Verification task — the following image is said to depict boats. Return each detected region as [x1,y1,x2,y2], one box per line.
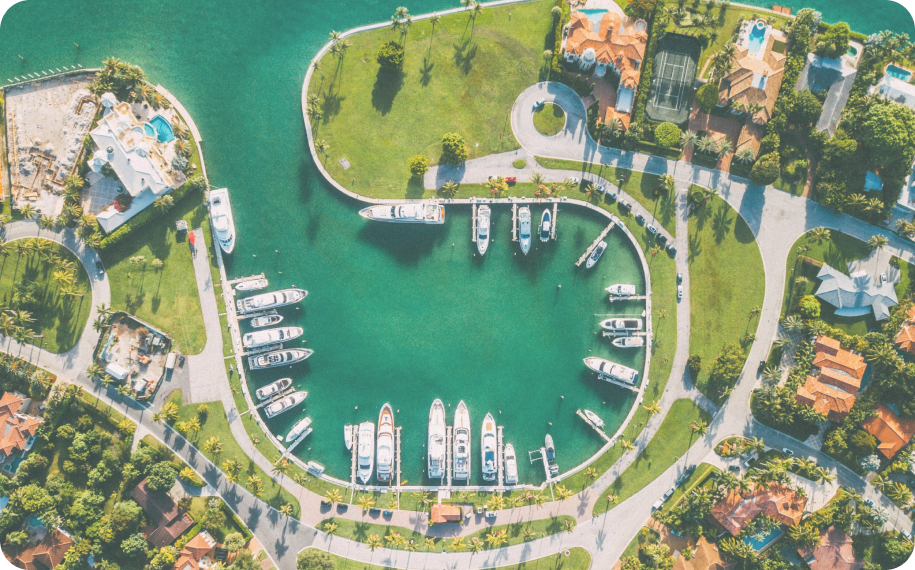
[306,461,324,474]
[605,284,635,295]
[257,378,291,398]
[286,415,313,440]
[482,413,497,480]
[236,278,269,290]
[587,241,608,267]
[453,401,471,479]
[359,204,446,222]
[550,464,559,473]
[378,403,394,481]
[545,434,556,462]
[428,399,446,477]
[613,337,643,348]
[600,318,642,330]
[477,205,491,255]
[237,289,307,313]
[209,189,235,253]
[358,421,374,483]
[504,443,517,483]
[539,209,550,242]
[252,314,283,327]
[583,358,638,383]
[249,348,313,371]
[518,207,531,255]
[344,423,353,449]
[265,391,306,418]
[245,327,303,347]
[585,410,605,427]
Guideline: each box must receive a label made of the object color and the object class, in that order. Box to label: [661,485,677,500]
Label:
white vehicle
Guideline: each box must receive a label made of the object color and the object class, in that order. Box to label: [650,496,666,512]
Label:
white vehicle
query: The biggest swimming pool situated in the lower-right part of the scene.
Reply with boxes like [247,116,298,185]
[743,524,785,550]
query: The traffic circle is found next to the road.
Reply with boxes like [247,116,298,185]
[512,83,587,139]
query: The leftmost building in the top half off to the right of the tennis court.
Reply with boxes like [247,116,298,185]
[703,31,786,162]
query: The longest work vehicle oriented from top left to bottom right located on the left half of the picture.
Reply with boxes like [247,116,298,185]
[130,348,151,365]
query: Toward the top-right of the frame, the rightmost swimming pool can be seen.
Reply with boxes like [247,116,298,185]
[885,63,914,80]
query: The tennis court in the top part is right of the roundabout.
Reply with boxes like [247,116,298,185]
[646,29,708,122]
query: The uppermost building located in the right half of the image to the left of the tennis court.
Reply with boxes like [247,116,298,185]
[563,10,650,127]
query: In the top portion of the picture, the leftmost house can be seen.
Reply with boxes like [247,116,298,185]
[87,100,179,231]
